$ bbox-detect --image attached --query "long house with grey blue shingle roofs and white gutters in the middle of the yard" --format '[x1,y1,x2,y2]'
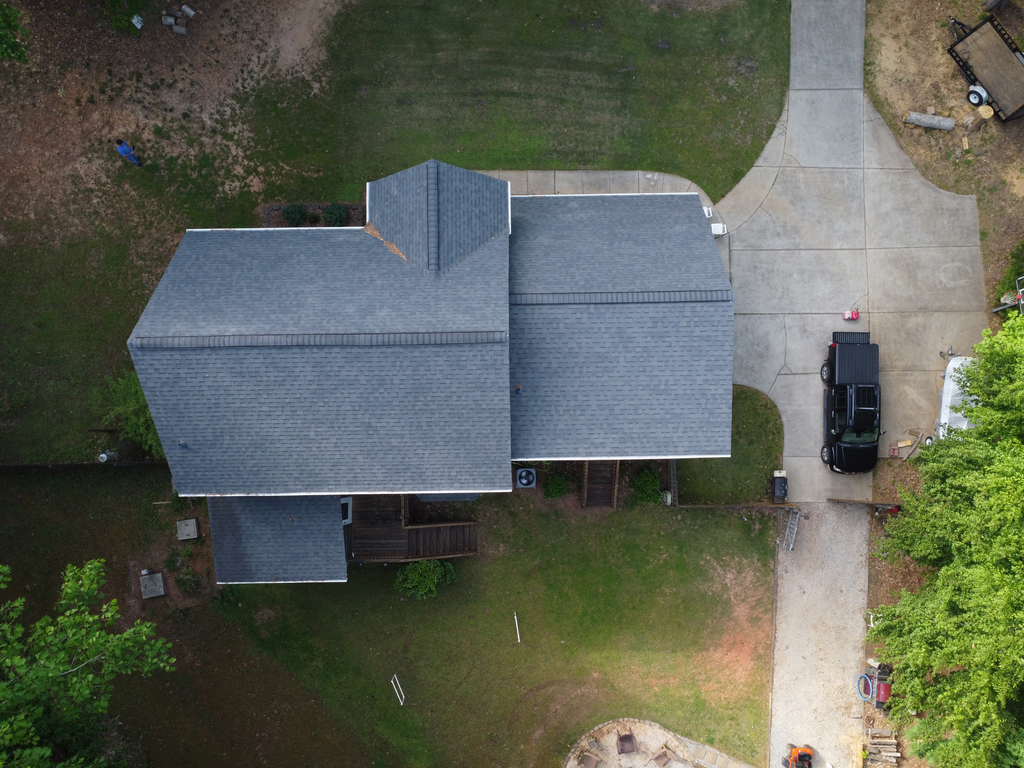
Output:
[128,160,733,586]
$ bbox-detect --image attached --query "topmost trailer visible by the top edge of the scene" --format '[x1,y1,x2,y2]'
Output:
[942,18,1024,136]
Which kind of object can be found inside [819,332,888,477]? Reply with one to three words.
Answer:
truck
